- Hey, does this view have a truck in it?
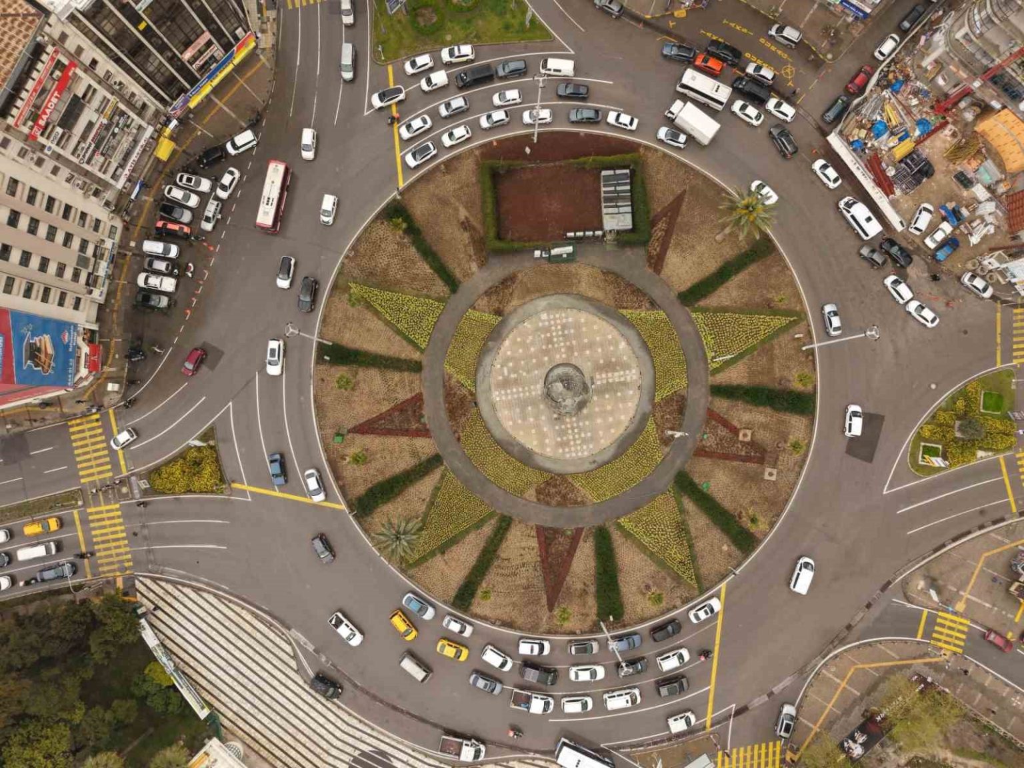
Yes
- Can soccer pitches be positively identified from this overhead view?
No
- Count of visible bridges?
zero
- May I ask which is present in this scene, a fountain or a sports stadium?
fountain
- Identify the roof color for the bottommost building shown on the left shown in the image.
white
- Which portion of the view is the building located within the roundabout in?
top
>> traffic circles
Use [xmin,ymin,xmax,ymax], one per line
[313,132,818,637]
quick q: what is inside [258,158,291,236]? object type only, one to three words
bus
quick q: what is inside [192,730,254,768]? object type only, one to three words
building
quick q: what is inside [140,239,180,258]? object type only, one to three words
vehicle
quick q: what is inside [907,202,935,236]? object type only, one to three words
car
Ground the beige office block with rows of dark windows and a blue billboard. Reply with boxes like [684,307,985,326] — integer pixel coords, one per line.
[0,122,132,409]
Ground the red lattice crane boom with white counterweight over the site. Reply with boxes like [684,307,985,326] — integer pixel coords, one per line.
[930,49,1022,118]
